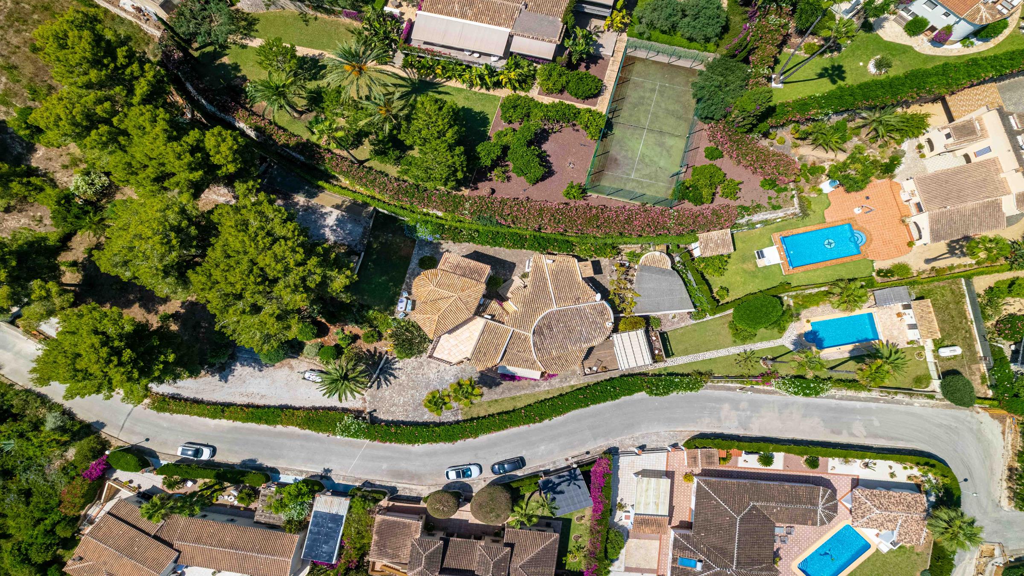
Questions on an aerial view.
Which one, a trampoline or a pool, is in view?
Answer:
pool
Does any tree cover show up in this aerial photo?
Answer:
Yes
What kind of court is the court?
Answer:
tennis court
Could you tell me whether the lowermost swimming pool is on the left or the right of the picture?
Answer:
right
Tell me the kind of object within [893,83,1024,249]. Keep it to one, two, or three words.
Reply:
house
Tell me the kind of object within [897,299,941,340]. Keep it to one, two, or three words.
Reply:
building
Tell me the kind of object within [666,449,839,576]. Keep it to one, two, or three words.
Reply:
house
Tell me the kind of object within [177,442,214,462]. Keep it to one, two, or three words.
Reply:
car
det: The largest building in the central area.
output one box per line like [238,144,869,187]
[411,252,615,379]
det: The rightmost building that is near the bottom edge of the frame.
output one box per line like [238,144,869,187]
[835,487,927,554]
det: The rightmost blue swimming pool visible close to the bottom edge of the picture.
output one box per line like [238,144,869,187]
[798,525,871,576]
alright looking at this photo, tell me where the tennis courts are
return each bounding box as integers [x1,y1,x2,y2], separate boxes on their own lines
[587,49,703,206]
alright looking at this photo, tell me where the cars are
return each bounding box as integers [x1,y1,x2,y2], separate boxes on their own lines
[491,456,526,476]
[445,462,481,481]
[177,442,214,462]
